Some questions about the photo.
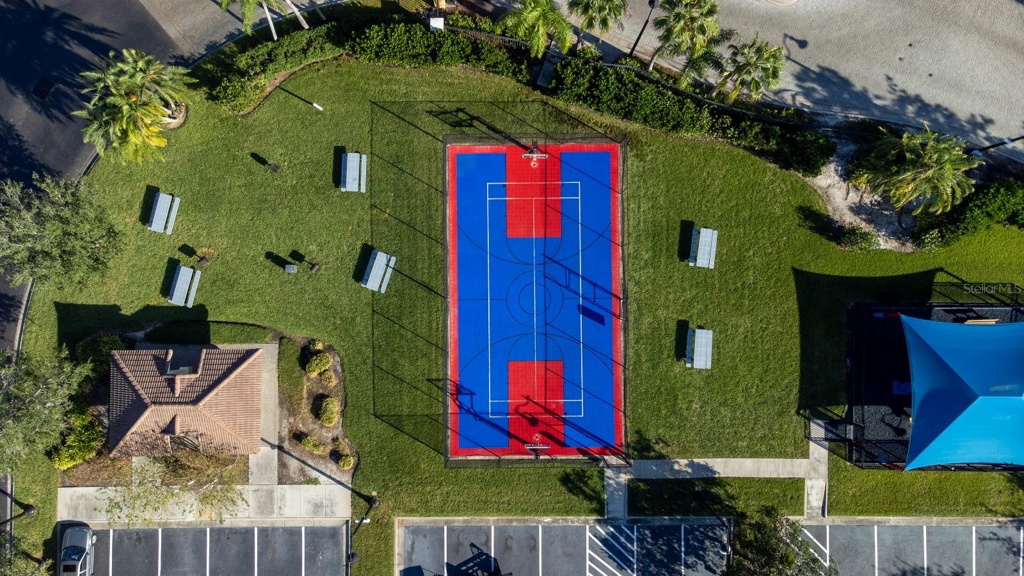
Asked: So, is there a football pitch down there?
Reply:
No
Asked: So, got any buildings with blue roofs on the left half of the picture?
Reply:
No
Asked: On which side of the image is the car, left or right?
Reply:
left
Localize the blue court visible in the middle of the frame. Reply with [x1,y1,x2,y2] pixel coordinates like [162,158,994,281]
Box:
[445,139,626,459]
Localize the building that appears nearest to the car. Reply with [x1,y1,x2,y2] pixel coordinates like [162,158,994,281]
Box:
[108,348,264,458]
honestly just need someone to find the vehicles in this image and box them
[58,525,102,576]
